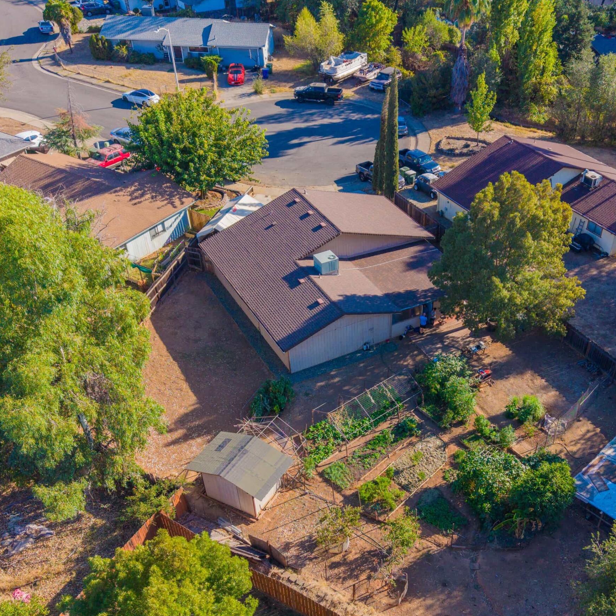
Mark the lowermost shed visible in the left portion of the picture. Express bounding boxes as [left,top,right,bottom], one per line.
[186,432,293,523]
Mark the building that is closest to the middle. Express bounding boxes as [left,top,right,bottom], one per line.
[197,187,468,373]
